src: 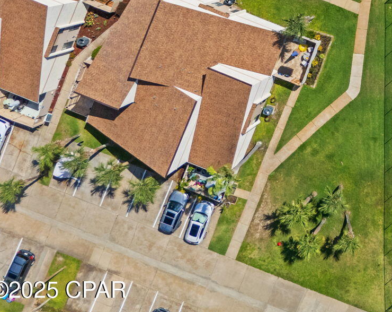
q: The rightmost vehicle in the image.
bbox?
[179,202,211,250]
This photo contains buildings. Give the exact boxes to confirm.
[0,0,120,131]
[61,0,319,202]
